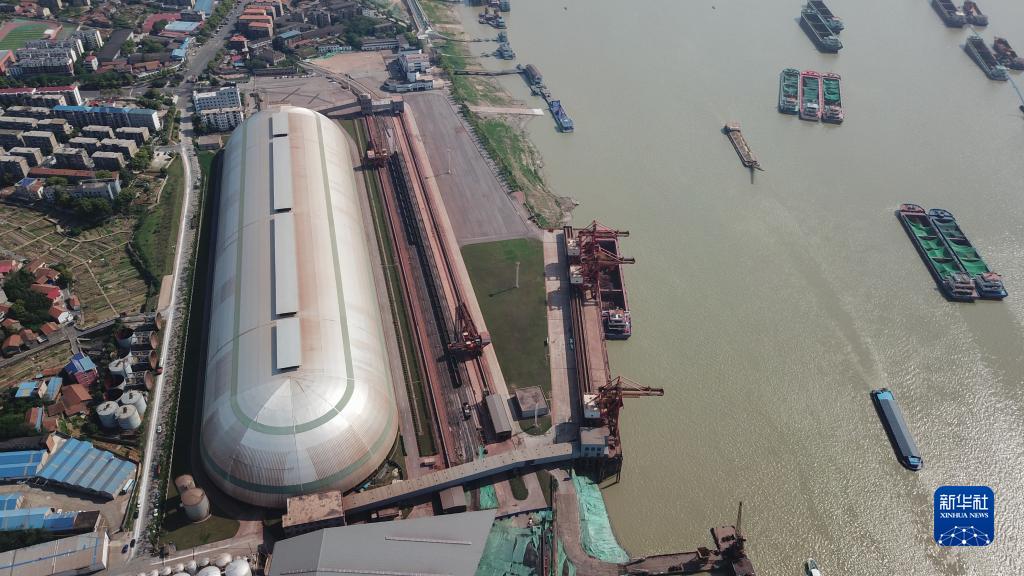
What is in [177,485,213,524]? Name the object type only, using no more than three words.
silo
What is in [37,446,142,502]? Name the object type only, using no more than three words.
building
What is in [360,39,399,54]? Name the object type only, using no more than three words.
house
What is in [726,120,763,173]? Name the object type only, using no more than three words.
ship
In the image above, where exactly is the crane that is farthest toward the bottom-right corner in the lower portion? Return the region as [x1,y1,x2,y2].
[700,494,768,576]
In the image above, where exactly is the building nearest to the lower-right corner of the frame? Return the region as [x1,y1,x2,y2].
[582,425,608,459]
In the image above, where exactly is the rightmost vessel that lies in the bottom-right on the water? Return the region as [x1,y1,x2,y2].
[870,388,921,474]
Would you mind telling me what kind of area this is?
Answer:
port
